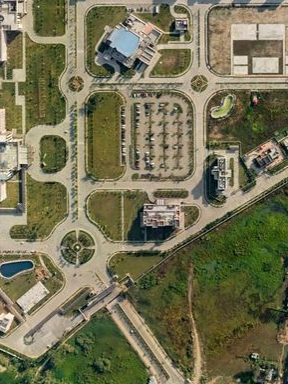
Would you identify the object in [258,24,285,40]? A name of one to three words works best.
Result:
sports court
